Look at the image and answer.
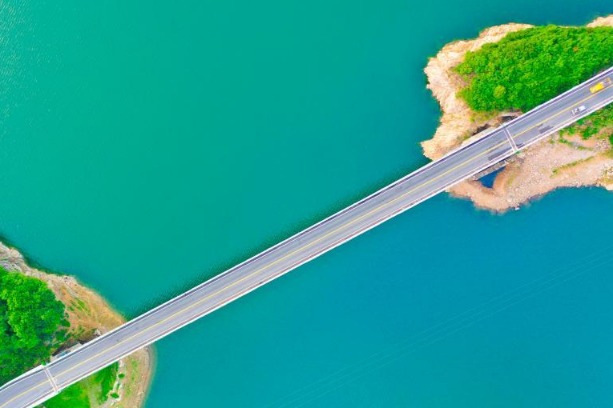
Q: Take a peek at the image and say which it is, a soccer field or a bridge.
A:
bridge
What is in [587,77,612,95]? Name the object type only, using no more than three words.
vehicle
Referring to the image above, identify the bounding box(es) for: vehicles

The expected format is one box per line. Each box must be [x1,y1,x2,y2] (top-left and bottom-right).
[587,77,612,95]
[569,103,587,116]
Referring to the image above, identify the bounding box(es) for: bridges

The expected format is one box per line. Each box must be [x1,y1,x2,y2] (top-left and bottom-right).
[43,124,520,394]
